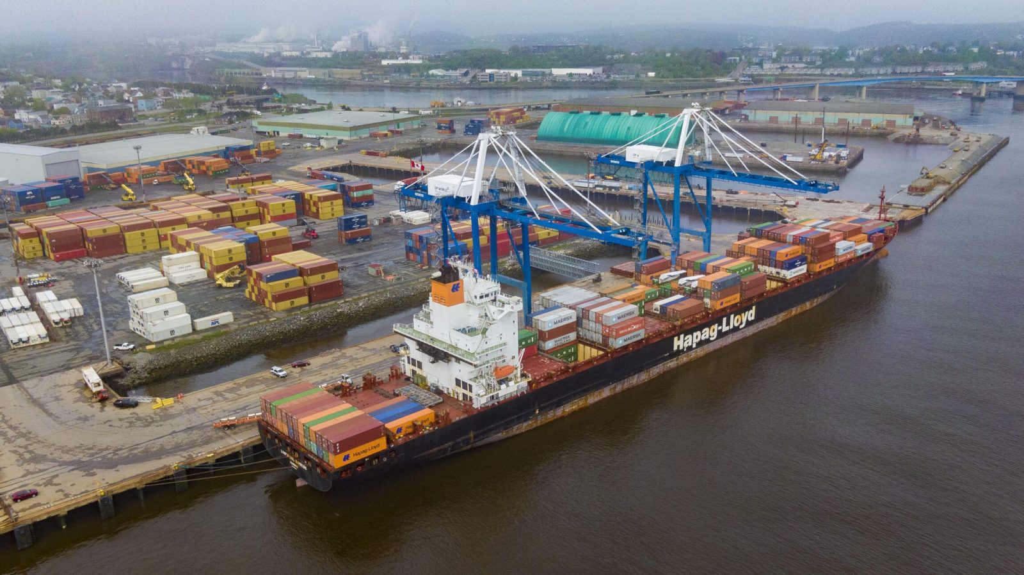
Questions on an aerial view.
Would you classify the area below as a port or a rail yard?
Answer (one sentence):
The picture captures a port.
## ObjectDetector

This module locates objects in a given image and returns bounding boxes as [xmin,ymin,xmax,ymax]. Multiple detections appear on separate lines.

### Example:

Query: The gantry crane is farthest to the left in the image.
[397,125,663,306]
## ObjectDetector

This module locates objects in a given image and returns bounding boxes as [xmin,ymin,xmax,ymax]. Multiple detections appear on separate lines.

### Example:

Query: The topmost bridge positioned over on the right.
[486,66,1024,114]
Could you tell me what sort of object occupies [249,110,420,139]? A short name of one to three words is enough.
building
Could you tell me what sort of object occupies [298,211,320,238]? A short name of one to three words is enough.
work vehicle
